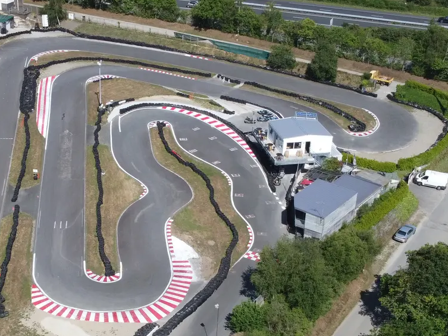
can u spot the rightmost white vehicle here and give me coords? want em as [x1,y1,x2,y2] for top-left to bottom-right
[411,169,448,188]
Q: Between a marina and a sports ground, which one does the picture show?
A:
sports ground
